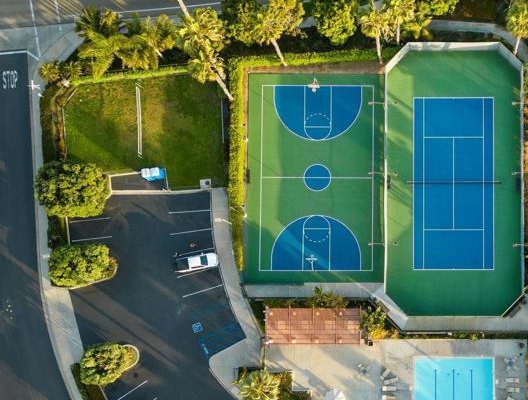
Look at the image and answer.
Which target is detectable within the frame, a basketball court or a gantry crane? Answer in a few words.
basketball court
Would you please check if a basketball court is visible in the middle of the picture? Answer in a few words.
Yes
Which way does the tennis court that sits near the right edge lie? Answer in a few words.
up and down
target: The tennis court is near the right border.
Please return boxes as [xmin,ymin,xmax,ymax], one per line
[383,42,527,318]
